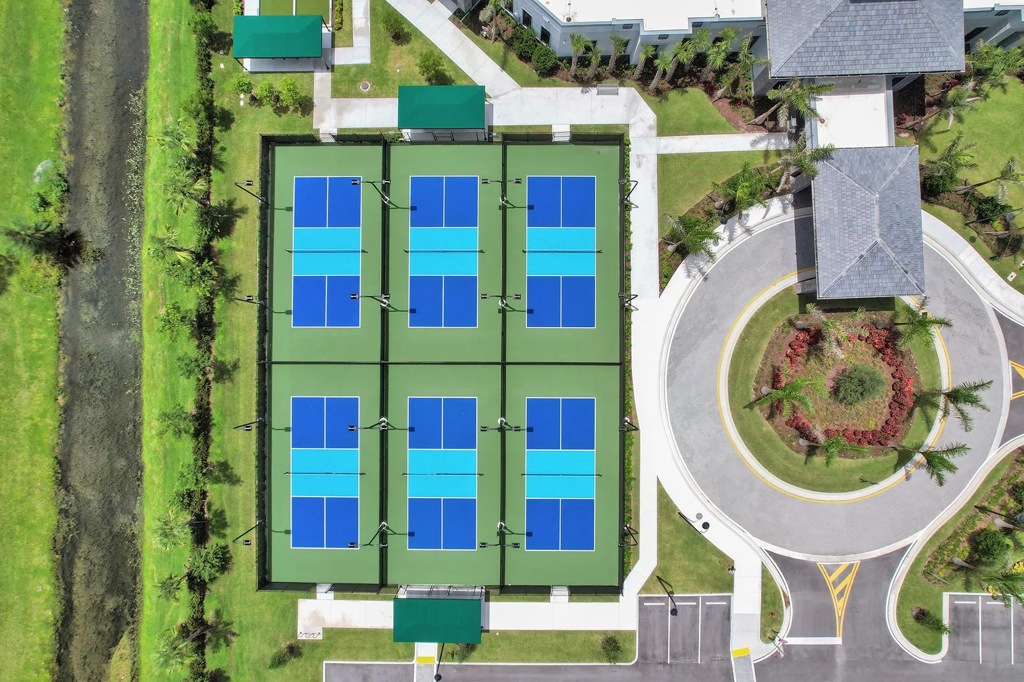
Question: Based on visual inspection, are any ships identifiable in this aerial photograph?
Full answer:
No, the frame has no ship in it.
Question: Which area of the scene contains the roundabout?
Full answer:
The roundabout is located in the right region of the scene.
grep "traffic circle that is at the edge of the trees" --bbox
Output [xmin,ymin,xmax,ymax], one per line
[659,212,1013,565]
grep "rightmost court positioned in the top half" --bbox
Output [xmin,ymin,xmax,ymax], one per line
[502,141,620,363]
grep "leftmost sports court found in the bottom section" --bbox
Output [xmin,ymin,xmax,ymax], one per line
[268,363,385,584]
